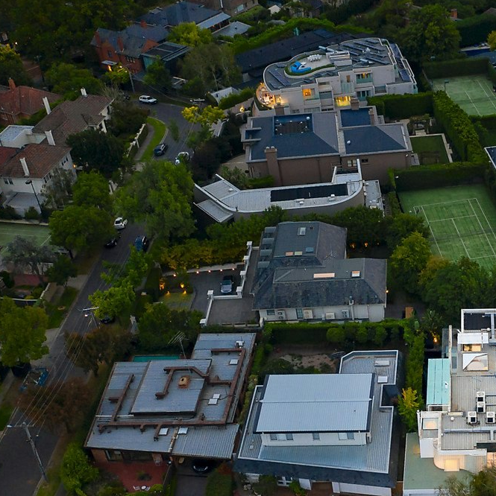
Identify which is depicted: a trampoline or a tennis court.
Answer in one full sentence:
I can see a tennis court in this picture.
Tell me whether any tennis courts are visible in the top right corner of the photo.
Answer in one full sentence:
Yes, there is a tennis court in the top right corner of the photo.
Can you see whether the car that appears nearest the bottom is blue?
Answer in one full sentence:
No, the color of the car that appears nearest the bottom is black.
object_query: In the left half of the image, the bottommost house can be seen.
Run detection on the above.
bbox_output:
[87,333,256,467]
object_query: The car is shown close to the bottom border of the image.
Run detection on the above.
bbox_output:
[191,456,211,481]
